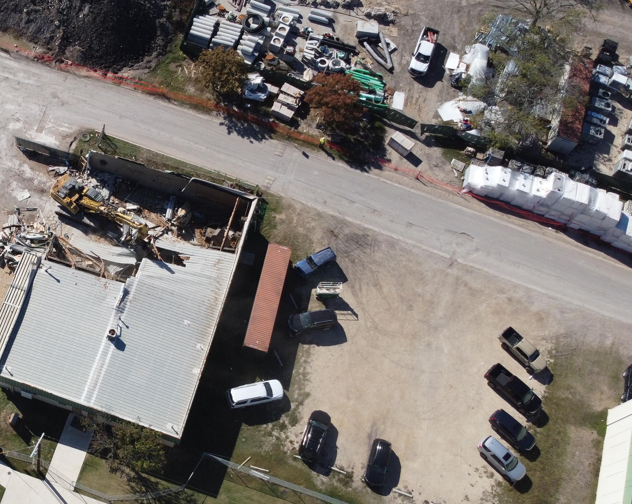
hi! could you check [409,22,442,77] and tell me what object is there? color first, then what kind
white truck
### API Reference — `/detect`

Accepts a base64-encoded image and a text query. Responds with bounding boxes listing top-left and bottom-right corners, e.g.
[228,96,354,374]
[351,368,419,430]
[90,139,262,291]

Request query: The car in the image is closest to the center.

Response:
[295,246,337,277]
